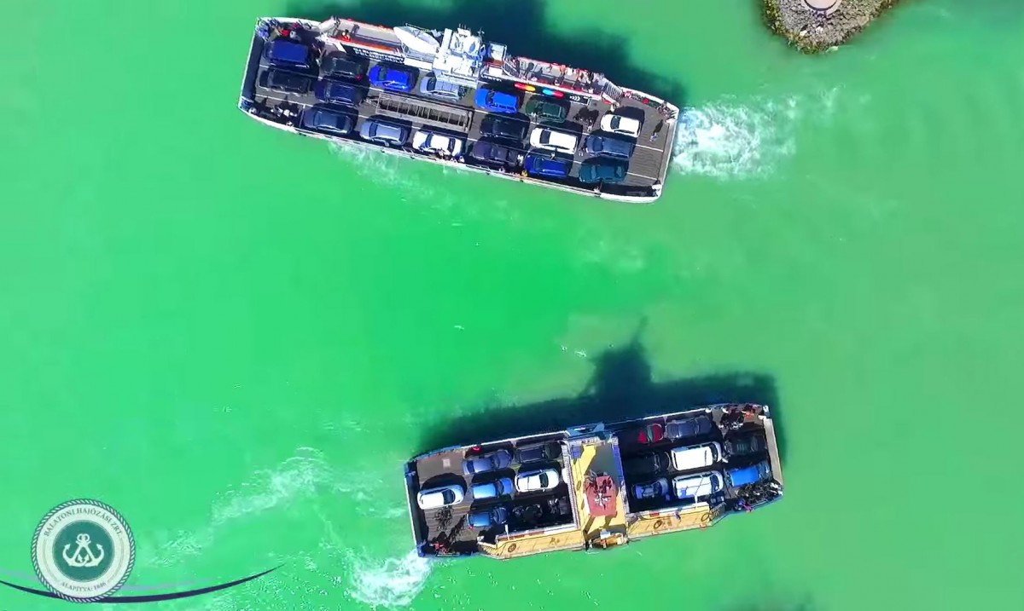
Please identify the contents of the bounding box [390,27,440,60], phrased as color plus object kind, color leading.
white boat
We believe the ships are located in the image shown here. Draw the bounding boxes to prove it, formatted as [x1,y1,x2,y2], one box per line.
[408,402,784,566]
[242,15,680,202]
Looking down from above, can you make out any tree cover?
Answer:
No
